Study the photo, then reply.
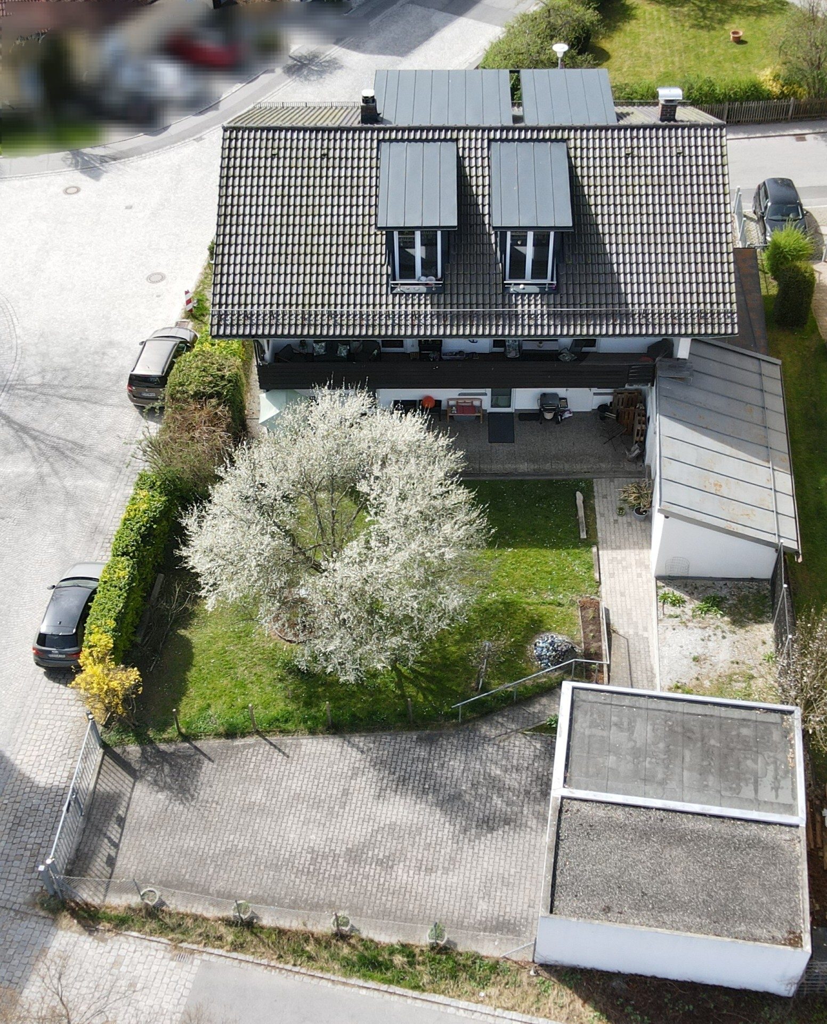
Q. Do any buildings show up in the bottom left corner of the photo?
No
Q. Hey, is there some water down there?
No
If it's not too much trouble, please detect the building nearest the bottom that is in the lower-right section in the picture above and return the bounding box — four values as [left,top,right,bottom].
[535,794,812,1000]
